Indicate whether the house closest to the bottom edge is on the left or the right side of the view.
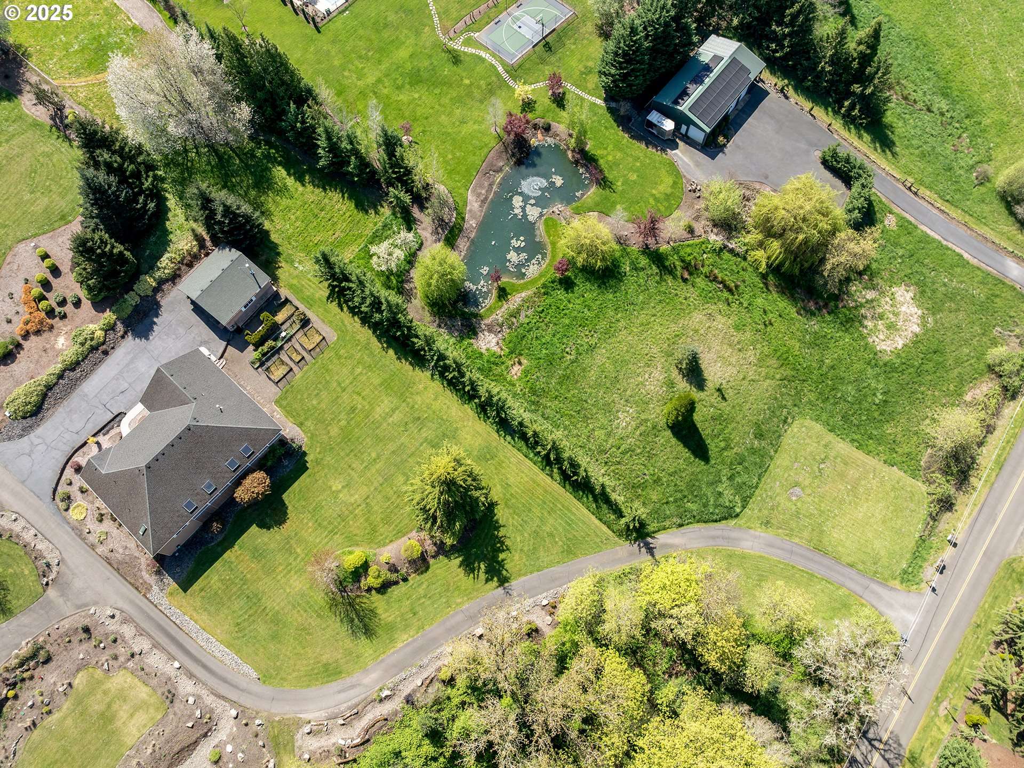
left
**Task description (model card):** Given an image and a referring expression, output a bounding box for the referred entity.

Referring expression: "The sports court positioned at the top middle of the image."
[478,0,578,64]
